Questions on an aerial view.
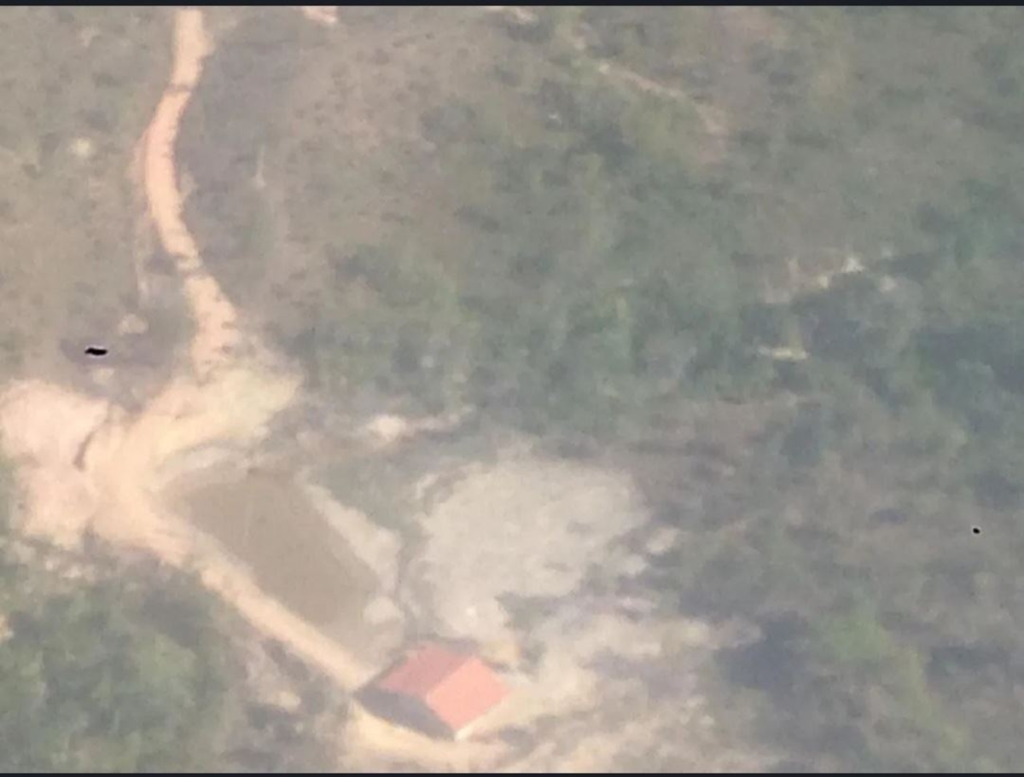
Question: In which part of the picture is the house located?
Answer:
bottom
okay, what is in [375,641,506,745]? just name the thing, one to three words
house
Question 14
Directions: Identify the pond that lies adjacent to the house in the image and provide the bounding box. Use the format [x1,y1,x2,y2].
[170,458,385,651]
